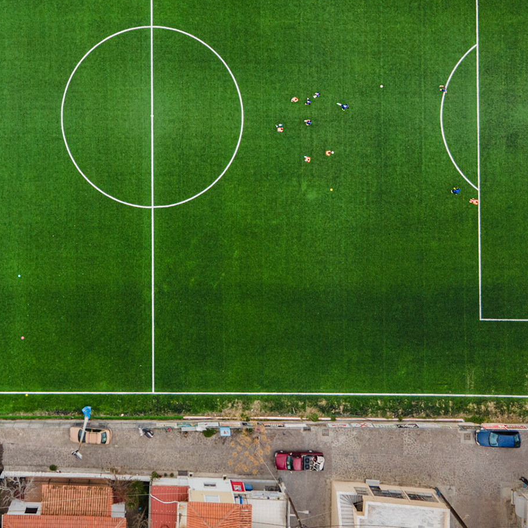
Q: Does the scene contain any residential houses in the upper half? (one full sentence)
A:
No, looking in the upper half, there is no residential house.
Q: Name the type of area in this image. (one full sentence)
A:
This looks like a sports ground.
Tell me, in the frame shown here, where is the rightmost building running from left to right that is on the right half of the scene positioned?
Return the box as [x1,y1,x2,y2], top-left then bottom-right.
[330,472,451,528]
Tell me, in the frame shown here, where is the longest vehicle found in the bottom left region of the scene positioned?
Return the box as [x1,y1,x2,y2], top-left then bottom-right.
[68,425,113,447]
